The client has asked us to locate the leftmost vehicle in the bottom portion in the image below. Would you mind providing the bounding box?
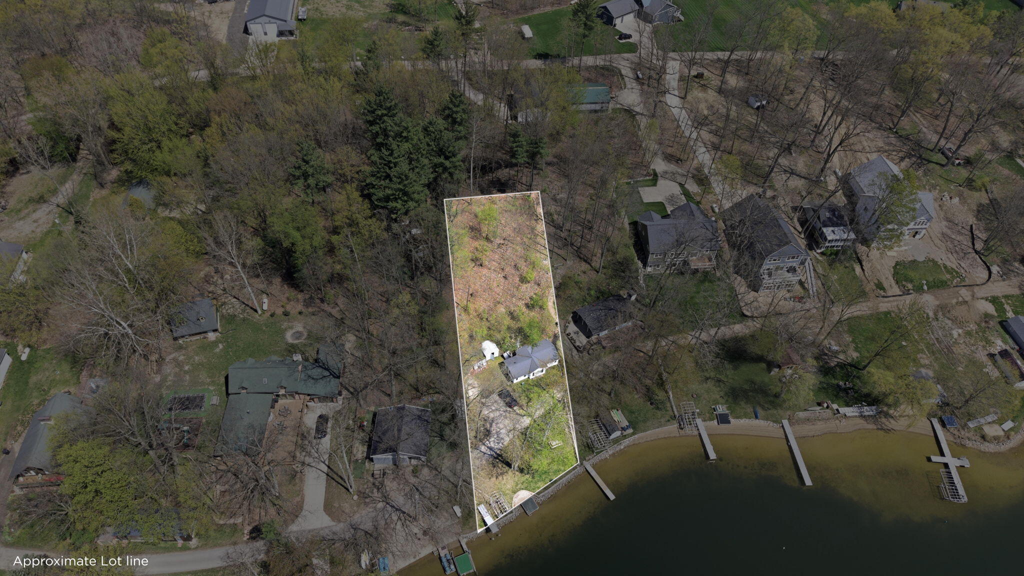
[310,412,330,439]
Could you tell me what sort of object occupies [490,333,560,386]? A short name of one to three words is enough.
house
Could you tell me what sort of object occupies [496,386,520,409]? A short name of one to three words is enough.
car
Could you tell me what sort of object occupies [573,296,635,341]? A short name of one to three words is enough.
building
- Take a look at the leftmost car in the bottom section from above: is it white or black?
black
